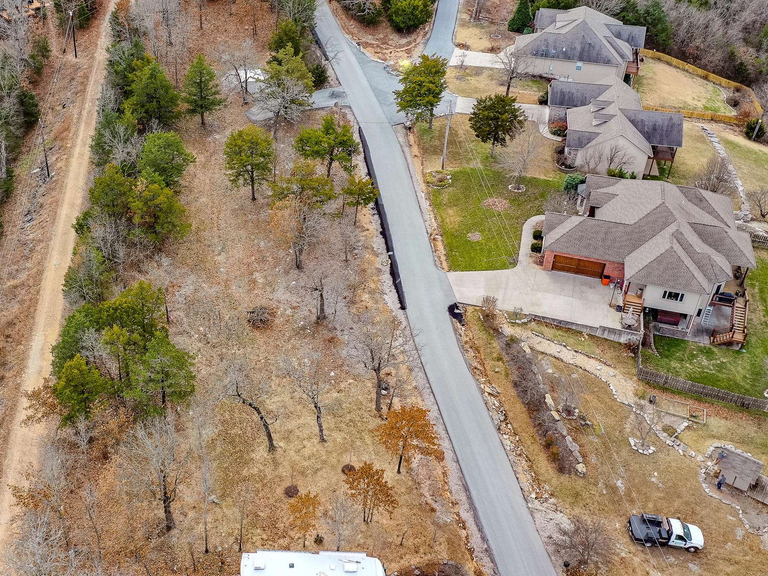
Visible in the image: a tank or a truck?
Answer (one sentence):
This aerial view contains a truck.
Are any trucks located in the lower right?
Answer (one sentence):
Yes, in the lower right there is a truck.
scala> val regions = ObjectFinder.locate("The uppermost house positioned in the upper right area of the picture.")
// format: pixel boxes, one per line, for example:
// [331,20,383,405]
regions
[514,8,660,92]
